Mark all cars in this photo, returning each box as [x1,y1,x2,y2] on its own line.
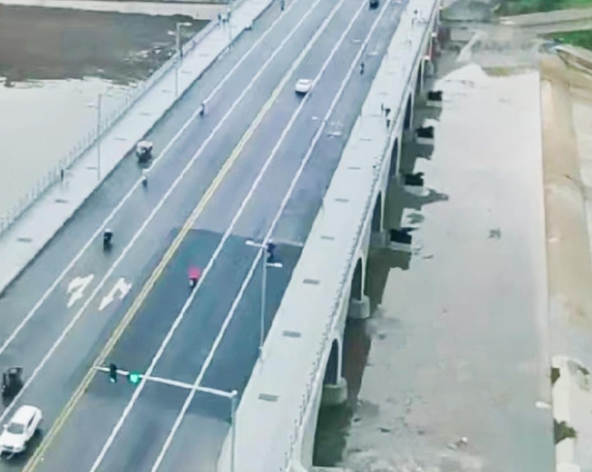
[295,79,314,94]
[0,398,45,450]
[368,0,381,8]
